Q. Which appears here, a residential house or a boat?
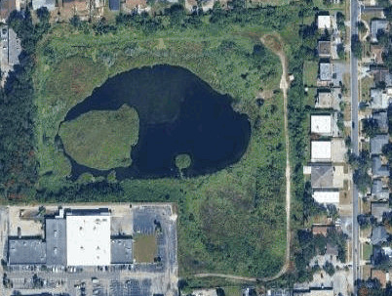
residential house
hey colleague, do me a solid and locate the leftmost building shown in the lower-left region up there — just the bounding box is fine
[8,239,47,264]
